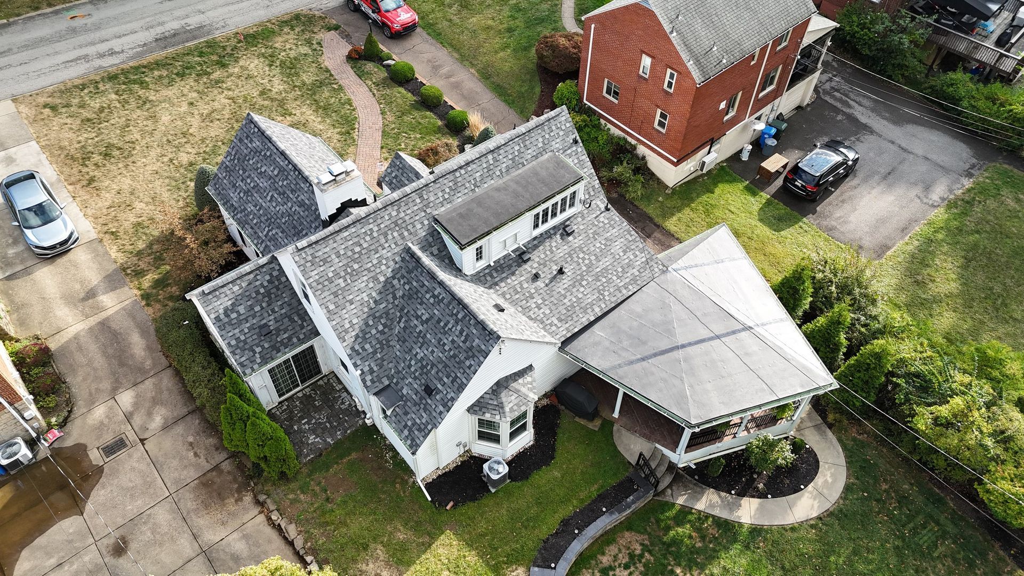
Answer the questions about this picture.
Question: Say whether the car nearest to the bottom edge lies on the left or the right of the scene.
left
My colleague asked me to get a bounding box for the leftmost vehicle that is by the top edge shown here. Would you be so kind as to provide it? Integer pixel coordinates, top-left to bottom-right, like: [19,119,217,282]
[343,0,415,40]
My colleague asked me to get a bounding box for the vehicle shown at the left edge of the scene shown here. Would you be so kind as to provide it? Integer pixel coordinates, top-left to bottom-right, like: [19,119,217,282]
[2,173,75,253]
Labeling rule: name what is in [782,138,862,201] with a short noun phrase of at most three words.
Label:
car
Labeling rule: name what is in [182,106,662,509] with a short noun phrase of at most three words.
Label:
house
